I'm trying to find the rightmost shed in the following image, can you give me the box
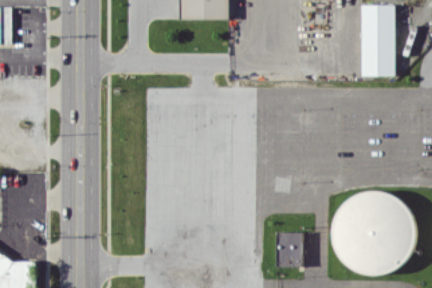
[362,5,395,76]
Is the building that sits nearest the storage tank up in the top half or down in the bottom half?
bottom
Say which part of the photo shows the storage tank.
bottom right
